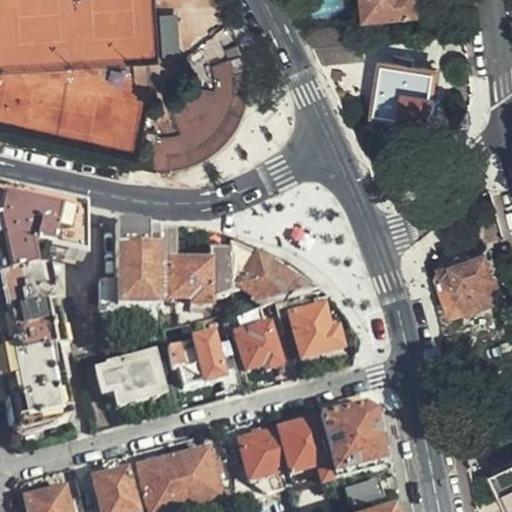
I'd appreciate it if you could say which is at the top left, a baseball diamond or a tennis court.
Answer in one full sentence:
What appears at the top left is a tennis court.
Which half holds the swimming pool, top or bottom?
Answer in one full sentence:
You can find the swimming pool in the top half.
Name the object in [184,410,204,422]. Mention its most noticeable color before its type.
white vehicle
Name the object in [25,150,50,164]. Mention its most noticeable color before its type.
white car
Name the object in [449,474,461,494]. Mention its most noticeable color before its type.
white vehicle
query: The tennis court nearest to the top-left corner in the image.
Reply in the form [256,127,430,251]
[0,0,76,70]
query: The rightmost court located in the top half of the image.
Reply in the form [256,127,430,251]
[76,0,156,66]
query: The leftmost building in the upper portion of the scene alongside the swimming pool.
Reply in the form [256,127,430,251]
[310,28,366,68]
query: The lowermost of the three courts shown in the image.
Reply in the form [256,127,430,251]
[0,68,143,153]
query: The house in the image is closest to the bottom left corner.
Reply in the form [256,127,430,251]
[22,483,78,512]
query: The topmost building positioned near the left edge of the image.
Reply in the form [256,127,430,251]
[7,189,92,266]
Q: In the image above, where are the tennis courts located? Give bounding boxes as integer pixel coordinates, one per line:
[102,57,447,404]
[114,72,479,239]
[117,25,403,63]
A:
[0,68,143,153]
[0,0,76,70]
[76,0,156,66]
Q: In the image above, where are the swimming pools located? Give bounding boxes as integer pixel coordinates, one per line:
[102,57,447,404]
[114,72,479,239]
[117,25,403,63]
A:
[312,0,346,20]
